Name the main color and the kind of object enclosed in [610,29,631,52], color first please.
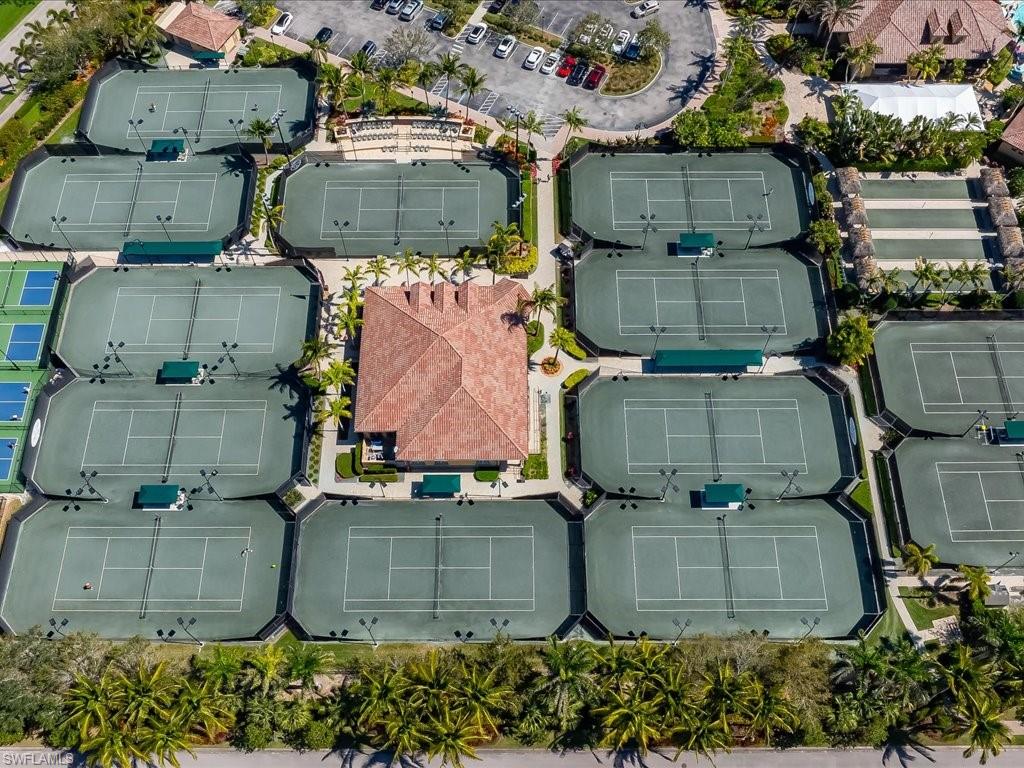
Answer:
white car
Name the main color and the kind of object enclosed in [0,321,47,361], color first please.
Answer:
blue sports court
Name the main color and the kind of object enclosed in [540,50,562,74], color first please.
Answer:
white car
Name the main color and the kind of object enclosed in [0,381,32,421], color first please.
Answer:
blue sports court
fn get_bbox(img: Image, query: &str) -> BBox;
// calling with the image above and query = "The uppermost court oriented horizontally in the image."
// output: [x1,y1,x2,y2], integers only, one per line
[86,68,322,156]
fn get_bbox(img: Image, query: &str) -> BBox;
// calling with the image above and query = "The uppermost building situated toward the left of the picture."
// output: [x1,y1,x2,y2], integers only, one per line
[156,1,239,55]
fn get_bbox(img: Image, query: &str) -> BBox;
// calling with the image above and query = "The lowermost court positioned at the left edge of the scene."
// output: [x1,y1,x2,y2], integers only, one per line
[0,500,301,641]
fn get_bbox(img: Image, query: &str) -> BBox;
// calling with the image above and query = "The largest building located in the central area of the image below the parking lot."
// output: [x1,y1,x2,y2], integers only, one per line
[354,275,528,464]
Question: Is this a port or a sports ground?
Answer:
sports ground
